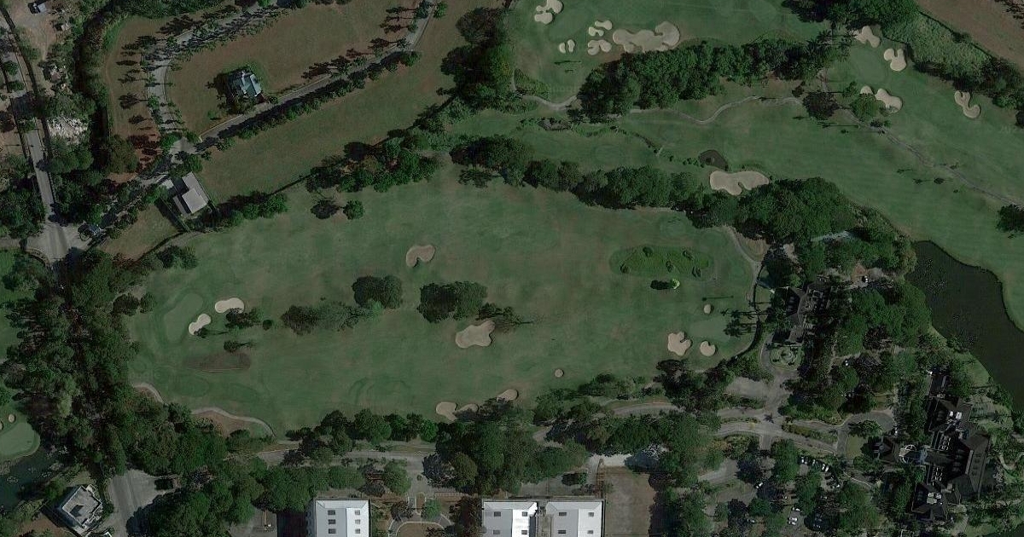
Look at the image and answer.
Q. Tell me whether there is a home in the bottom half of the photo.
Yes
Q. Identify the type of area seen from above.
golf course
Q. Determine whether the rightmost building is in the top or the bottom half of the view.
bottom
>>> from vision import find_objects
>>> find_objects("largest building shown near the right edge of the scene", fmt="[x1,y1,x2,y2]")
[912,375,990,523]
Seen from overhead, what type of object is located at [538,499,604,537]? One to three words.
building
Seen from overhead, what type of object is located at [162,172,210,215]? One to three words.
house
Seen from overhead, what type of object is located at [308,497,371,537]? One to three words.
building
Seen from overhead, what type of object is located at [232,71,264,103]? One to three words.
house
